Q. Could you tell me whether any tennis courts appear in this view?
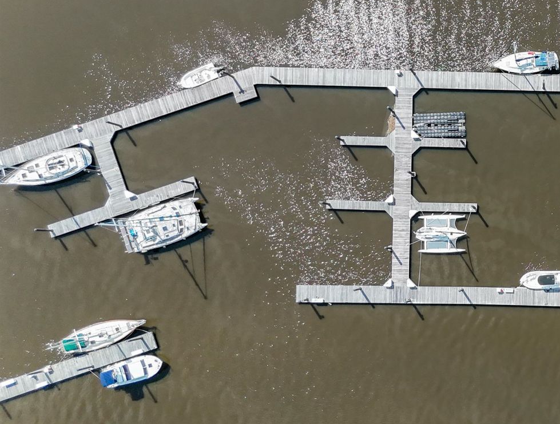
No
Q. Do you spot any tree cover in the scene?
No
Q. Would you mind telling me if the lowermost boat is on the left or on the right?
left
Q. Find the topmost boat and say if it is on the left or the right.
right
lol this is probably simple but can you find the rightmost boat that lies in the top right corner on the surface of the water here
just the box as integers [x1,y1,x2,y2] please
[493,42,560,73]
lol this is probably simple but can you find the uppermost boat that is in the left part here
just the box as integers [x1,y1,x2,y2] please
[177,63,226,86]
